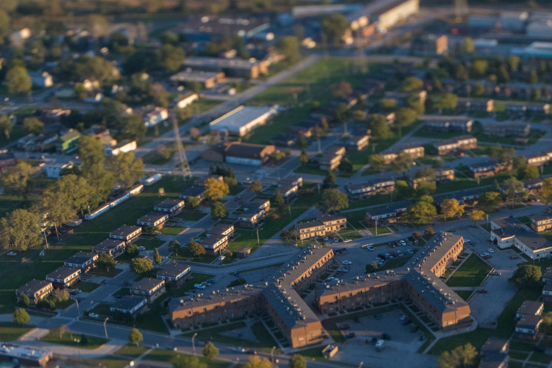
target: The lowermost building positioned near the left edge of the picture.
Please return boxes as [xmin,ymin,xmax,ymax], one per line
[0,341,55,368]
